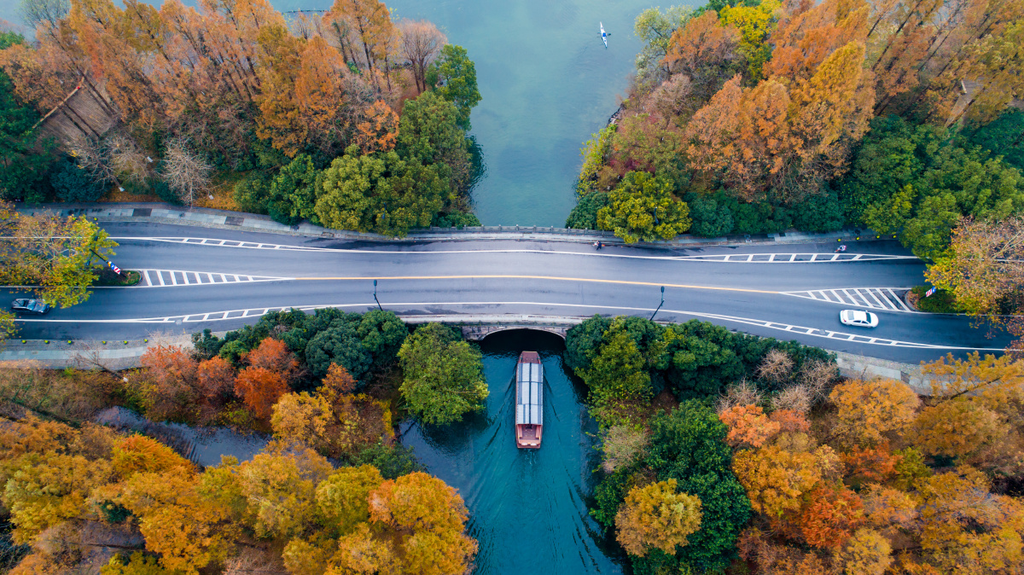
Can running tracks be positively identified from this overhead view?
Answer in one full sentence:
No, no running track is visible in the scene.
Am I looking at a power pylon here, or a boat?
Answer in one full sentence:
There is a boat in the scene.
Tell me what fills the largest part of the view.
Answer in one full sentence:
For the most part, this view shows trees.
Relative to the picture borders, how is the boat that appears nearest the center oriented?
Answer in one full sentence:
The boat that appears nearest the center is laid out vertically.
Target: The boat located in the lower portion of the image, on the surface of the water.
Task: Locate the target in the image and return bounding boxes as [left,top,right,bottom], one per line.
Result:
[516,351,542,450]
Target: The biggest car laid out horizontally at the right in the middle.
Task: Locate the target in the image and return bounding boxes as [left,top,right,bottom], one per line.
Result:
[839,310,878,327]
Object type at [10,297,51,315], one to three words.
car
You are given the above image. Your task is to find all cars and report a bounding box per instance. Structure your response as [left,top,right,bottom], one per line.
[839,310,878,327]
[10,297,51,315]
